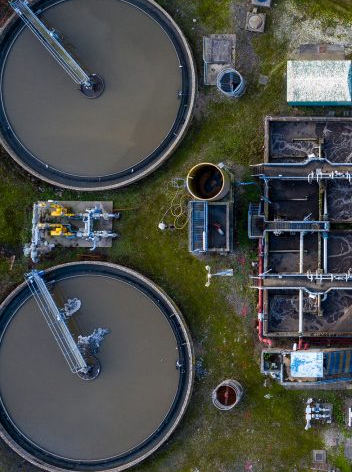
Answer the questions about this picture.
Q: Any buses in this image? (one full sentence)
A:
No, there's no bus here.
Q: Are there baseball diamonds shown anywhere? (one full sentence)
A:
No, there's no baseball diamond here.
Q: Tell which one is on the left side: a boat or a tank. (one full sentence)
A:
The one visible on the left side is a tank.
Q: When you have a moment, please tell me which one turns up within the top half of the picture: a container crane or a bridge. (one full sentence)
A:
Visible within the top half of the picture is a bridge.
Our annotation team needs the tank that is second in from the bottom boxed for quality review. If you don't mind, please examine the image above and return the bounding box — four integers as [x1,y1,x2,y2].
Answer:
[188,201,234,257]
